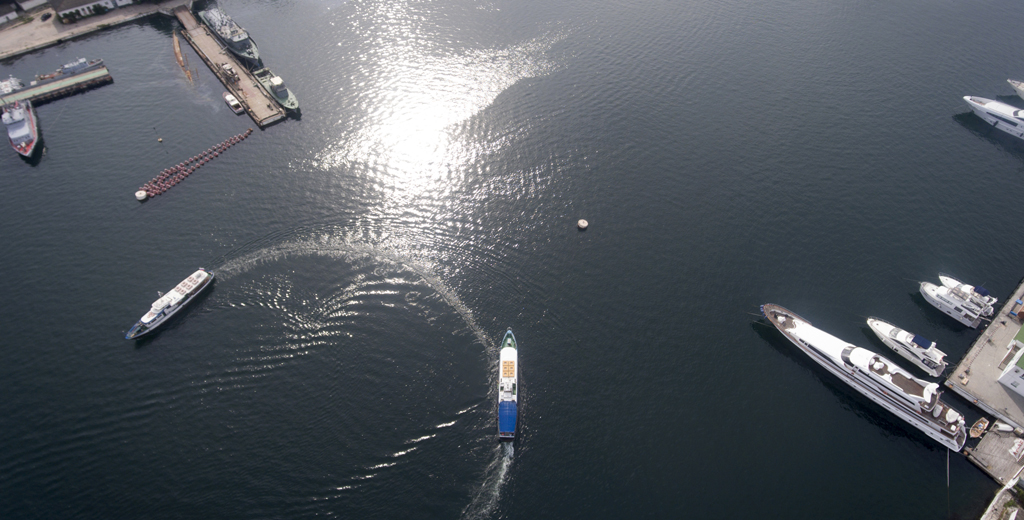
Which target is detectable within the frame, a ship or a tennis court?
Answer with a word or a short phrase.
ship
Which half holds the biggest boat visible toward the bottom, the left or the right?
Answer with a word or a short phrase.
right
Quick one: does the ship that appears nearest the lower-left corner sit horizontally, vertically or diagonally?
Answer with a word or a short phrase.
diagonally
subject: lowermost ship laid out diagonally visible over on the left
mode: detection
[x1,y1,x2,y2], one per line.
[124,266,220,340]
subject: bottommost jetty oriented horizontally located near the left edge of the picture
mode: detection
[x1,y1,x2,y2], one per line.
[0,64,109,111]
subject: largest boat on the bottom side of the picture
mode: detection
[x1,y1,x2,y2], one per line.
[760,303,969,452]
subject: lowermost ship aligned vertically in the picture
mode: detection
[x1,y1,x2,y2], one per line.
[497,328,520,441]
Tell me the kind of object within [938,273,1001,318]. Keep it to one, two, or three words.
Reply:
boat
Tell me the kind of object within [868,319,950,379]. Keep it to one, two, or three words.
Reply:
boat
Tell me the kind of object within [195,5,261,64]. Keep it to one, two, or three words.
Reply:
ship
